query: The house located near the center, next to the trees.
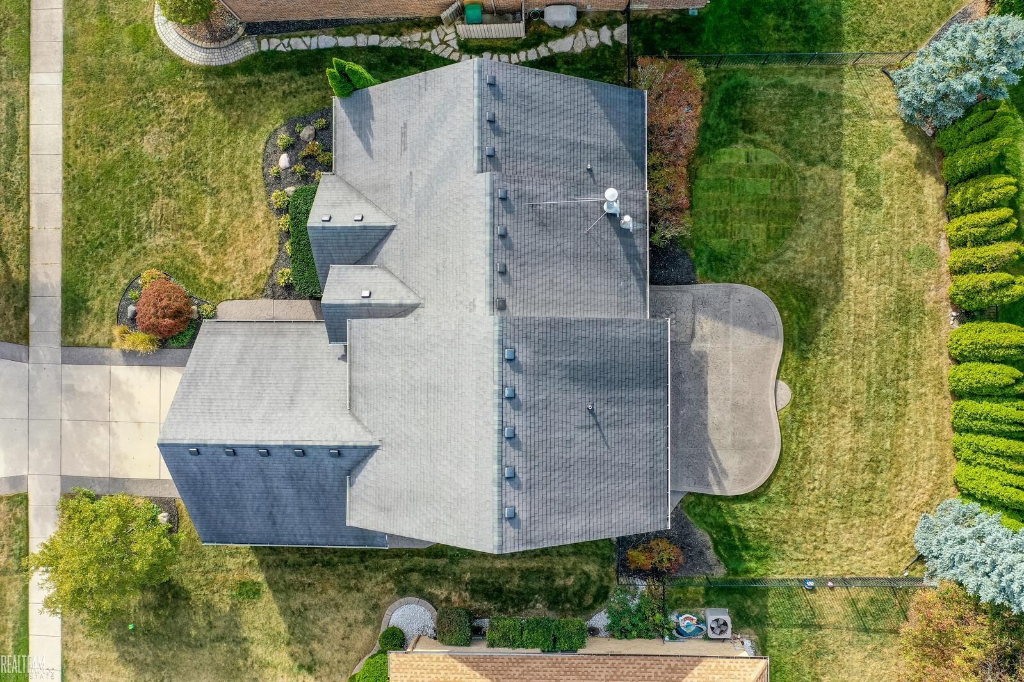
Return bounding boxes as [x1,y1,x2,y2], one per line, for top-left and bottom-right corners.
[159,60,674,558]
